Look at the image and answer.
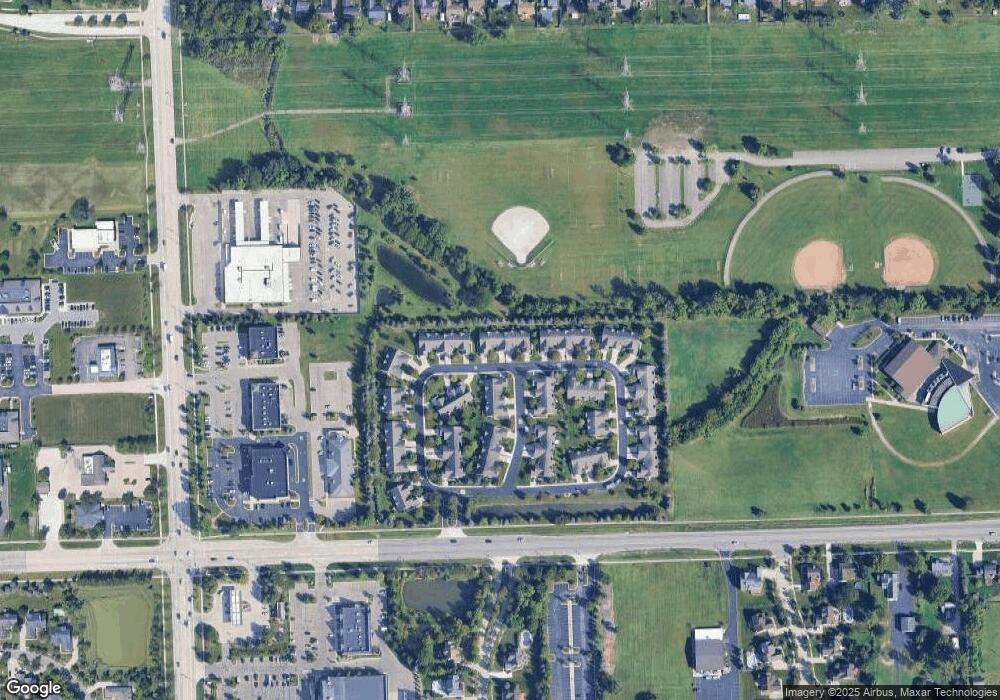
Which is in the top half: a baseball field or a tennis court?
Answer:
baseball field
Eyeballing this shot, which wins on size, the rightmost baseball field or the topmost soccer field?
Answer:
the baseball field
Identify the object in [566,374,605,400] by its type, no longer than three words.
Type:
house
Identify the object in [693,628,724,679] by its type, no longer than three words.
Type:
building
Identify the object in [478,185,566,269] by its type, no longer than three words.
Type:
baseball field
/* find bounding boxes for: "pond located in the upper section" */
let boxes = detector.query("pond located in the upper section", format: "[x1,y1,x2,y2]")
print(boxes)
[375,241,454,309]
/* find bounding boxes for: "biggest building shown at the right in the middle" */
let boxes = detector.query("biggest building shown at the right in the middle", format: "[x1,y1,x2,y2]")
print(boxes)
[885,341,975,436]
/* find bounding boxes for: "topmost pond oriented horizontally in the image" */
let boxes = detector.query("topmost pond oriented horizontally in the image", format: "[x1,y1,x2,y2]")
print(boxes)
[472,501,651,517]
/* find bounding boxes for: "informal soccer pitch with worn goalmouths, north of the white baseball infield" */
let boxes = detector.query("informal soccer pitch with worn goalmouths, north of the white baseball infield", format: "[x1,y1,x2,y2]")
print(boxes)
[446,152,553,198]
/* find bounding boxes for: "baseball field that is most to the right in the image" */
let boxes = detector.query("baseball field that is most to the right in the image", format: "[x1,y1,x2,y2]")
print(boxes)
[868,186,990,292]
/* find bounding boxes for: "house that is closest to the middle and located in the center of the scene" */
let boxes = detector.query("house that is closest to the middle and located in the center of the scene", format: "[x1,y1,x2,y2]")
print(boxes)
[479,333,530,358]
